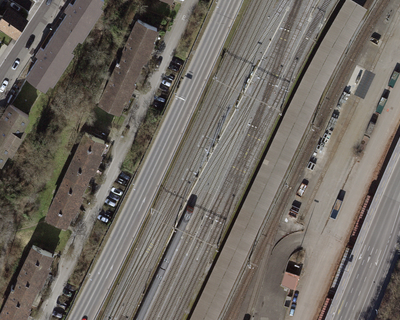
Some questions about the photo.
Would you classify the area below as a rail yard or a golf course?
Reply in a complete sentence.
This looks like a rail yard.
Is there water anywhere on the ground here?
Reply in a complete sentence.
No, the scene doesn't show any water.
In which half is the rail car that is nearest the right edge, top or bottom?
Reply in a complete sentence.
The rail car that is nearest the right edge sits in the bottom half of the picture.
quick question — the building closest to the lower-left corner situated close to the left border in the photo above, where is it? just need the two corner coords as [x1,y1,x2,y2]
[0,244,52,320]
